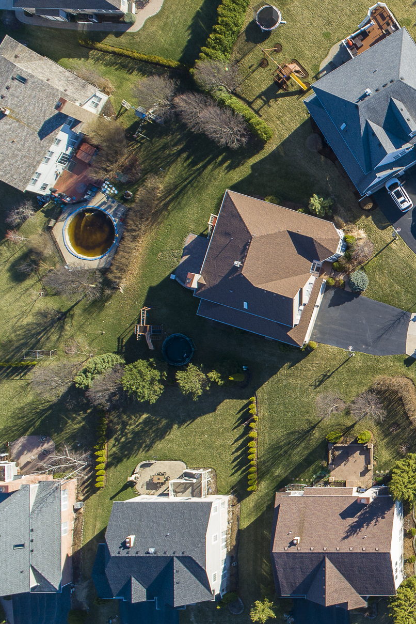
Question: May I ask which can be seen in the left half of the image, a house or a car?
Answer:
house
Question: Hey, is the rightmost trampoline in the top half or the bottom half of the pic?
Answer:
top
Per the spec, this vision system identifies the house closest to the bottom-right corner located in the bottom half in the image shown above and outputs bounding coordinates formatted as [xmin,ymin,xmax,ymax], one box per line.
[270,484,402,610]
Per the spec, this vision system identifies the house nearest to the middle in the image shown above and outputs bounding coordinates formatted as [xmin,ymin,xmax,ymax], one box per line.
[184,189,345,349]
